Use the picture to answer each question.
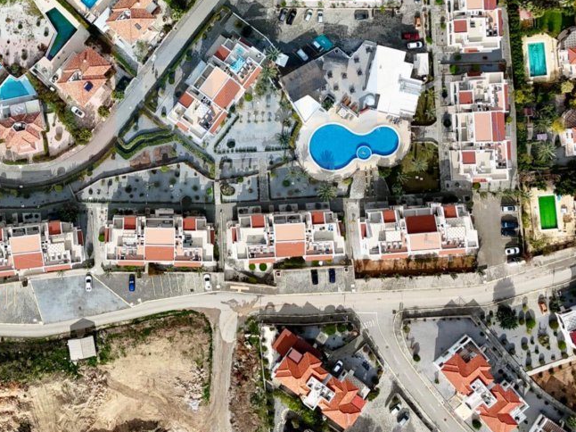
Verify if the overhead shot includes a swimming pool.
Yes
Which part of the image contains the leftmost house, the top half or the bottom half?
top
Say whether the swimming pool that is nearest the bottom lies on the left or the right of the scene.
right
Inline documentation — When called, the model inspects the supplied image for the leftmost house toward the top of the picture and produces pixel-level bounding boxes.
[0,110,43,154]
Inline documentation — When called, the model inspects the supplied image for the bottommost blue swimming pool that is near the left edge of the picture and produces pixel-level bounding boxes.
[0,73,41,104]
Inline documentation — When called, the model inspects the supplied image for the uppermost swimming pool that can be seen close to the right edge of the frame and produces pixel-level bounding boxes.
[523,34,557,82]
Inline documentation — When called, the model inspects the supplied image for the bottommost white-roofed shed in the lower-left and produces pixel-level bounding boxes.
[67,337,96,365]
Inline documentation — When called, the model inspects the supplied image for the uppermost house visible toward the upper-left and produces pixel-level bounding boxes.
[105,0,161,46]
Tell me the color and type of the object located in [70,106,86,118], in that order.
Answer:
white vehicle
